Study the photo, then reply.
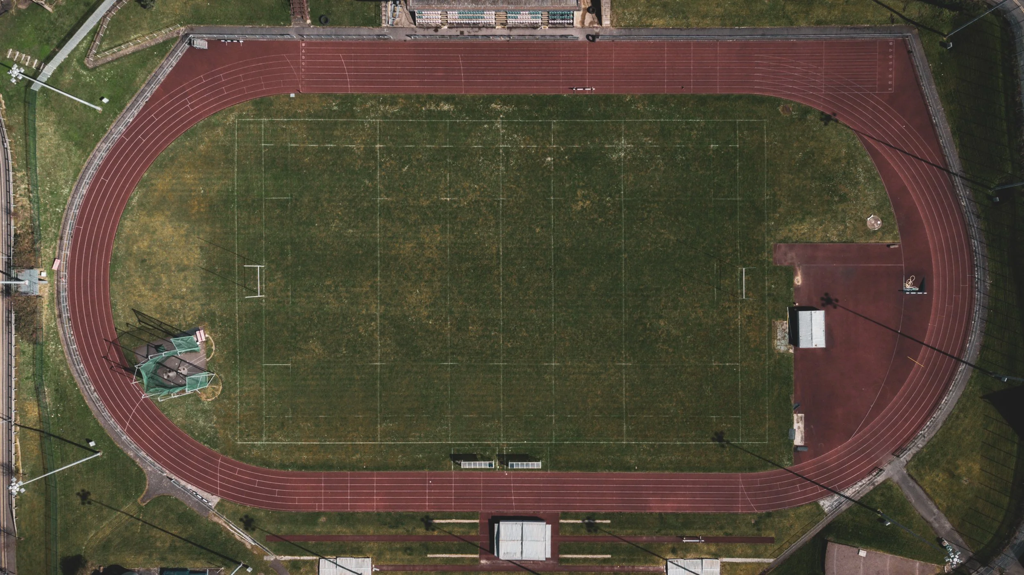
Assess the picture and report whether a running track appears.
Yes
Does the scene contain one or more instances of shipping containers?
No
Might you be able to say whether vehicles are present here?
No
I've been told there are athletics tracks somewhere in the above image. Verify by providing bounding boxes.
[67,37,976,512]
